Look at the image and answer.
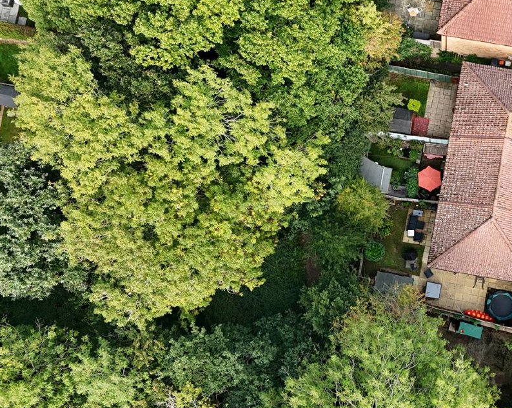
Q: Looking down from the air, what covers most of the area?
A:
trees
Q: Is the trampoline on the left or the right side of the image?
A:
right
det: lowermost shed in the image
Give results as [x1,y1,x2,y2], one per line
[371,269,413,295]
